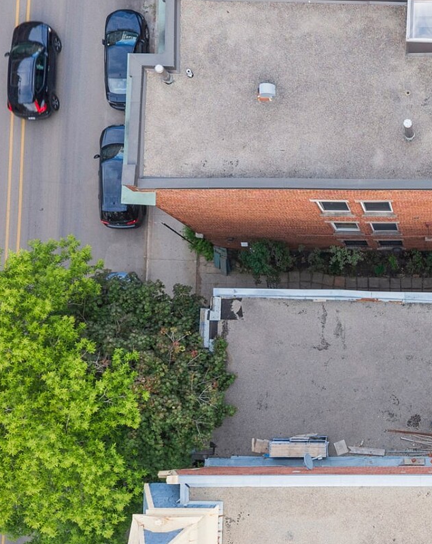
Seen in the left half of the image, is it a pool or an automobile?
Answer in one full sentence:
You can see an automobile in the left half of the image.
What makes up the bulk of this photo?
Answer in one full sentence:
The bulk of the photo consists of buildings.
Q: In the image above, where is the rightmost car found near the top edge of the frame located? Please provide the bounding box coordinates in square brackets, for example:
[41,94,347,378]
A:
[102,10,151,106]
